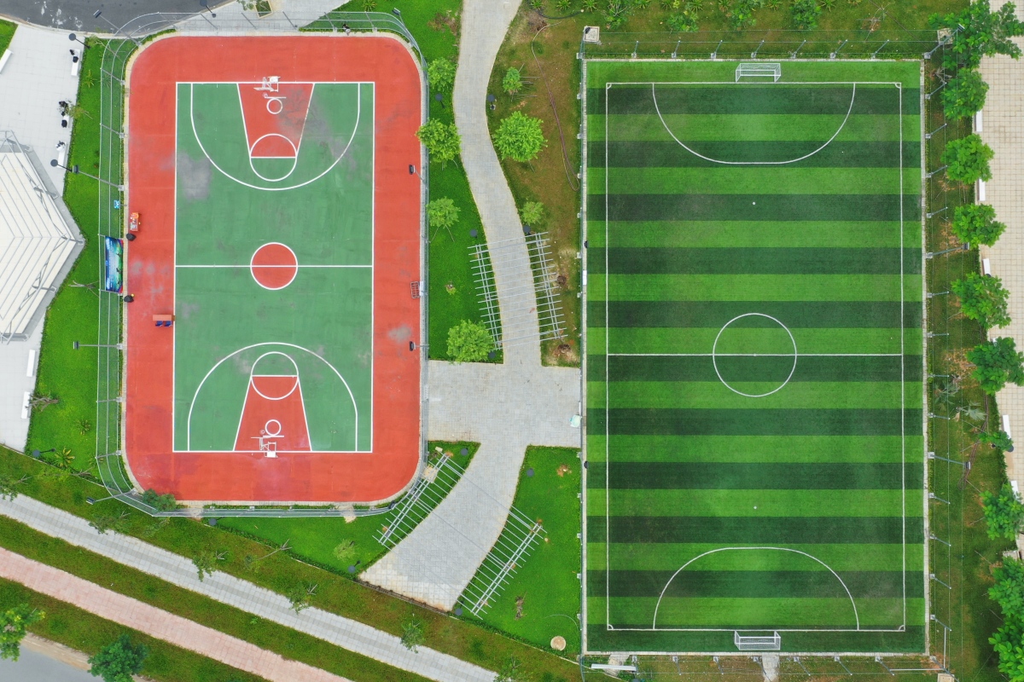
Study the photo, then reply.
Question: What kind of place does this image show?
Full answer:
The area seen from above is a sports ground.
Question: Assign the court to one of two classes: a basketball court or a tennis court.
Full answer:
The court can be classified as a basketball court.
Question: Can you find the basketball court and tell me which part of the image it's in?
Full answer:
The basketball court sits in the left section of the image.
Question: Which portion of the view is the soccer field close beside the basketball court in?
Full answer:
You can find the soccer field close beside the basketball court in the right area of the picture.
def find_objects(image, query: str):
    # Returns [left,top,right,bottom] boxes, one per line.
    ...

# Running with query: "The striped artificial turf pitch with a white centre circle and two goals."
[584,57,929,657]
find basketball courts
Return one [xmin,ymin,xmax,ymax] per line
[120,31,426,507]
